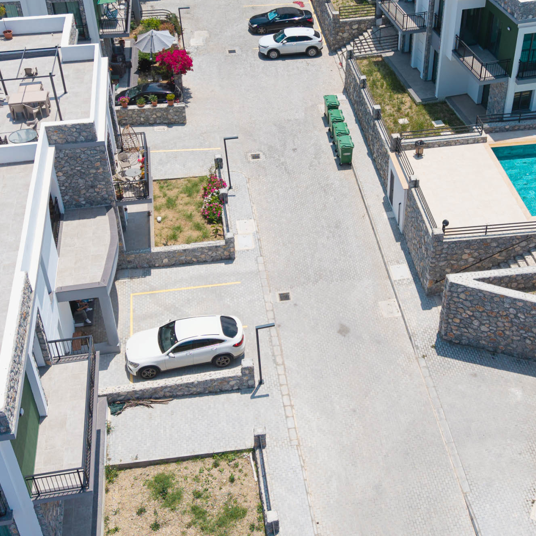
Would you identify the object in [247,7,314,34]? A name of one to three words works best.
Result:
car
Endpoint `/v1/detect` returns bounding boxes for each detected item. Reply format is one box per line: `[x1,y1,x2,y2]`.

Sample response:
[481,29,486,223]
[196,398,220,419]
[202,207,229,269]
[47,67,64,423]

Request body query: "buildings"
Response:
[0,14,155,536]
[361,0,536,143]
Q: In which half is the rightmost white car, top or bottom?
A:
top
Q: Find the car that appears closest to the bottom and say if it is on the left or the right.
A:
left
